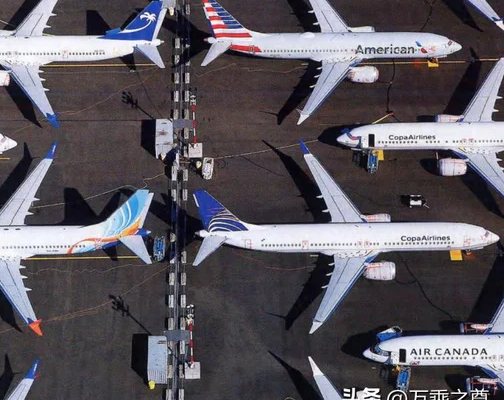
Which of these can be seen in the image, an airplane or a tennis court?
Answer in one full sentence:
Visible in the photo is an airplane.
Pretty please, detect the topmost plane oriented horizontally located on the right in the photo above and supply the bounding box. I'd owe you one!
[198,0,462,125]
